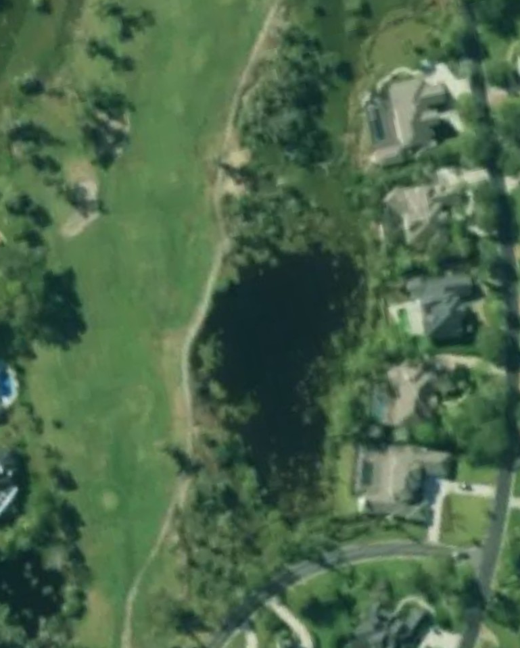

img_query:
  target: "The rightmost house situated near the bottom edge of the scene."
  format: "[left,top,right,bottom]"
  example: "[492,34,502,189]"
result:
[347,606,438,648]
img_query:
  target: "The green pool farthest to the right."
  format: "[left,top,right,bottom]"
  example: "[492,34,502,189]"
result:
[397,308,412,337]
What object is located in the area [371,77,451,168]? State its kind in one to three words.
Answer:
house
